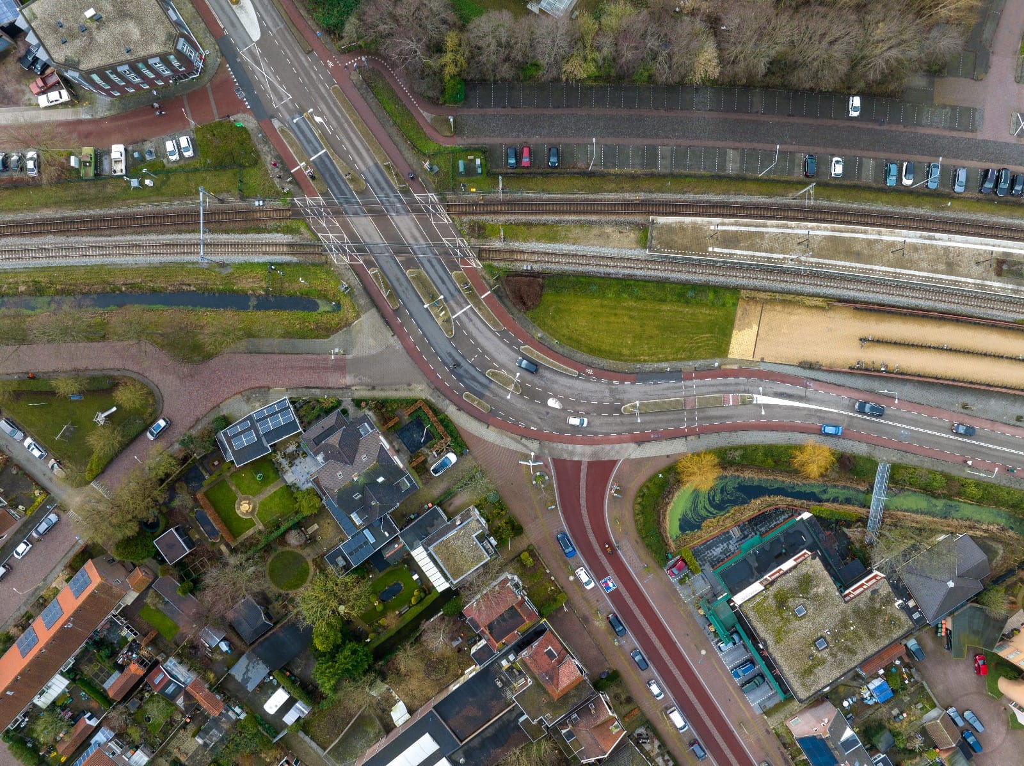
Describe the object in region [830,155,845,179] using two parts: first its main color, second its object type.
white car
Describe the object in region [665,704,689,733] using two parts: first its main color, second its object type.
white vehicle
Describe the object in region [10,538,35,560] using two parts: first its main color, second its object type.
white car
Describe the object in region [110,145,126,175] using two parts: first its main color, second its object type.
white vehicle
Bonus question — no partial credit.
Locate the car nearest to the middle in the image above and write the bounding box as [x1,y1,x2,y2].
[513,356,541,375]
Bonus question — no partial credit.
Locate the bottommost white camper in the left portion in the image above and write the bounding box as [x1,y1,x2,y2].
[260,689,289,717]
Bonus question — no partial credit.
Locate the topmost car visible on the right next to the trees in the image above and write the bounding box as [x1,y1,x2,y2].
[848,92,863,119]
